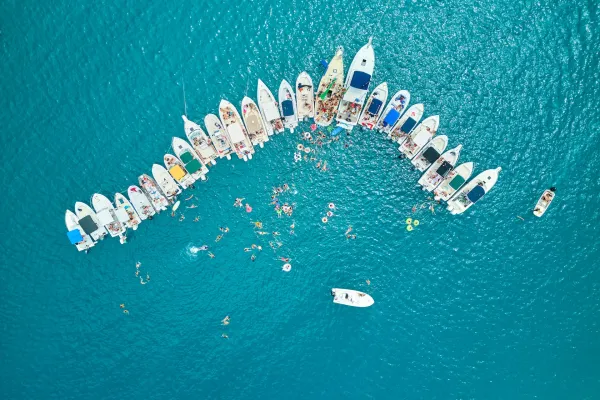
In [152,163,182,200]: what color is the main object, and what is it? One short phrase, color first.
white boat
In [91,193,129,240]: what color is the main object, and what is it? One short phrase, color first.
white boat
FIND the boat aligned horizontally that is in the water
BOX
[330,287,374,308]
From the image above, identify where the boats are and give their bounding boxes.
[163,153,197,192]
[220,99,255,161]
[181,115,219,167]
[335,37,373,132]
[243,97,270,148]
[114,192,143,230]
[445,167,502,216]
[172,137,209,182]
[152,163,182,200]
[433,162,473,204]
[91,193,129,240]
[397,115,439,161]
[127,186,157,222]
[389,104,424,146]
[313,47,342,128]
[536,189,555,217]
[206,114,234,158]
[257,79,285,138]
[139,173,170,213]
[416,145,462,193]
[410,135,448,173]
[64,210,95,252]
[376,90,410,136]
[357,82,388,132]
[330,287,374,308]
[74,201,110,244]
[295,71,315,123]
[278,79,299,131]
